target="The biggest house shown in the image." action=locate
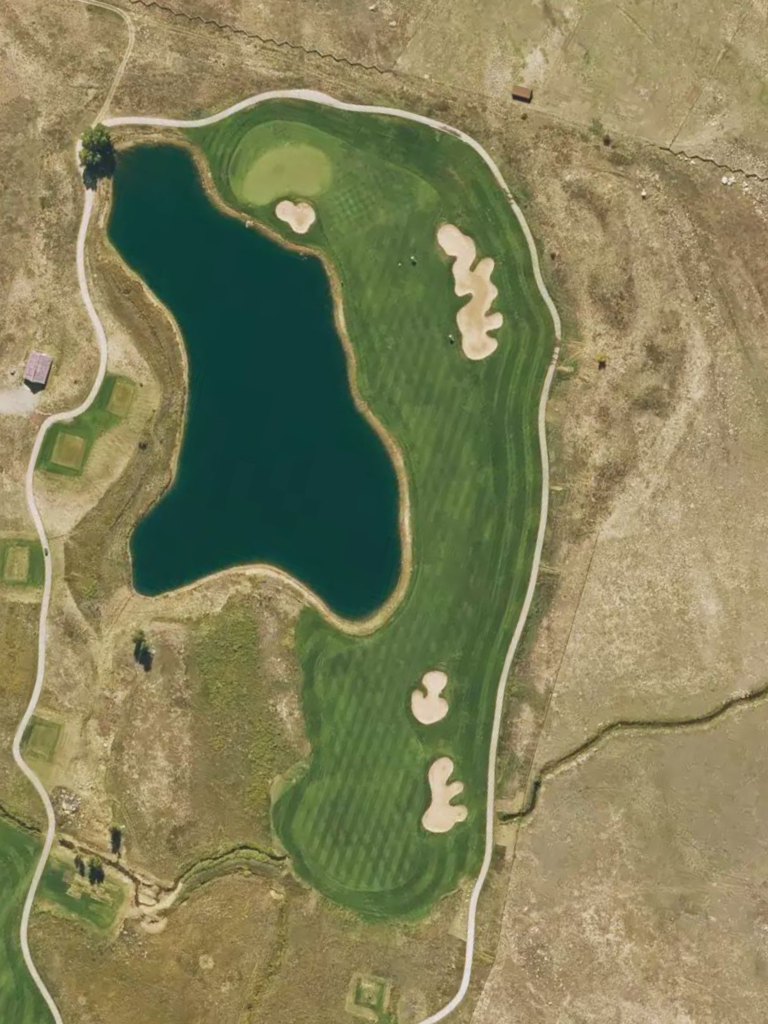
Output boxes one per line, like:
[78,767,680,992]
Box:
[22,350,52,385]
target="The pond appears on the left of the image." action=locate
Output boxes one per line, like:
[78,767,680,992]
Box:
[107,143,401,620]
